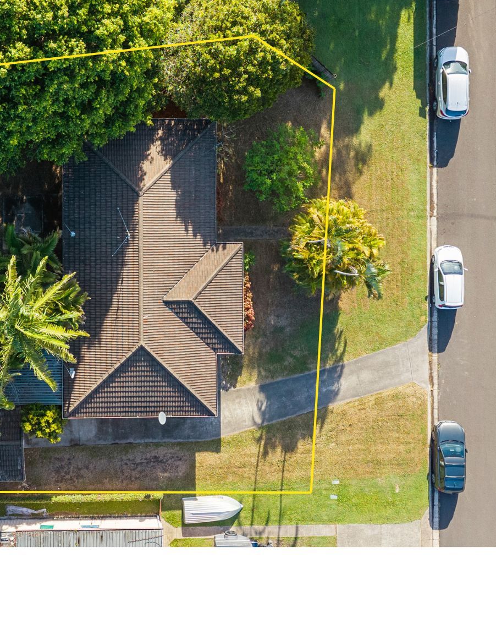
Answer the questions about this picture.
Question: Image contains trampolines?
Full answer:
No, the picture doesn't show any trampoline.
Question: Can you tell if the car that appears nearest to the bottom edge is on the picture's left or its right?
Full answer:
The car that appears nearest to the bottom edge sits on the right side.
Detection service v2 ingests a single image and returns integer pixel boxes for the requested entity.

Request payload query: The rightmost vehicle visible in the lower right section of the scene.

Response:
[428,419,469,494]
